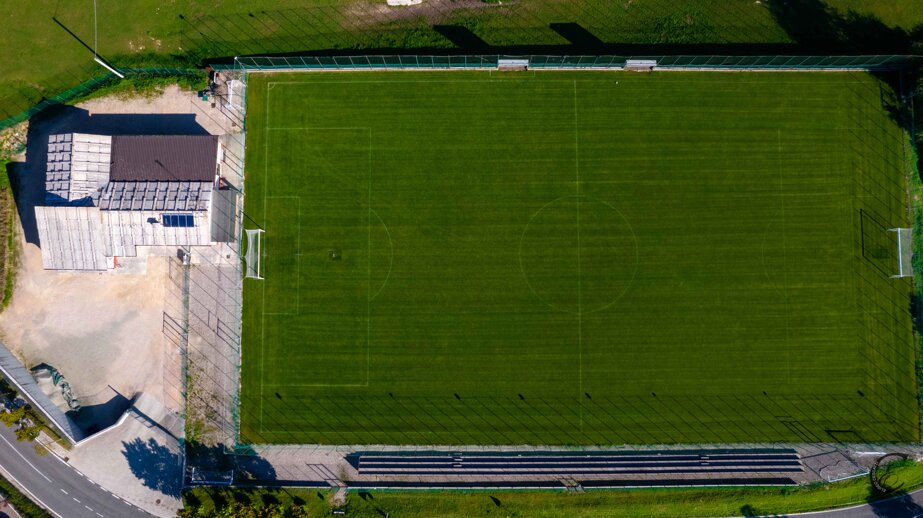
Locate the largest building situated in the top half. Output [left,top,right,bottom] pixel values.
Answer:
[34,132,240,271]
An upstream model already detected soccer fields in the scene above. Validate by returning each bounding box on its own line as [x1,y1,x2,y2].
[240,69,919,444]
